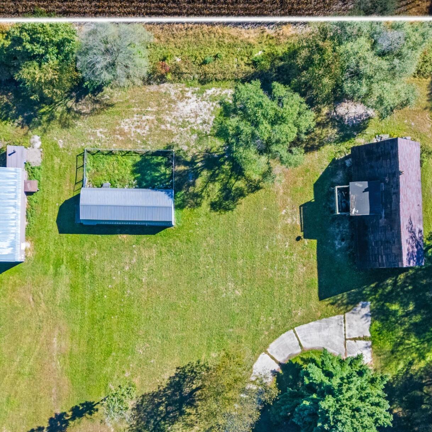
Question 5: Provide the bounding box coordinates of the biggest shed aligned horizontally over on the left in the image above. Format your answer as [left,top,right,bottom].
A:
[79,188,175,228]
